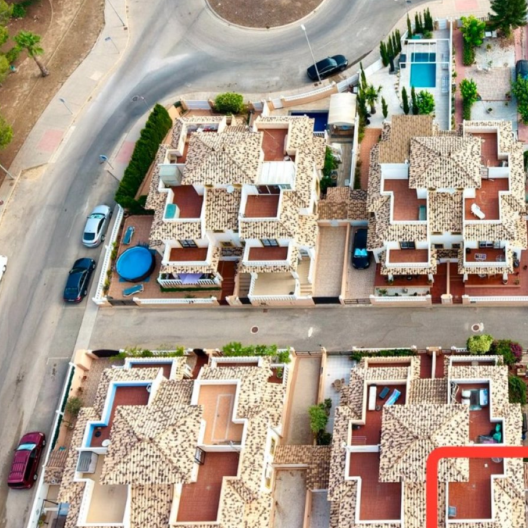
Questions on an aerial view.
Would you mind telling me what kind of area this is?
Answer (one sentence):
The area seen from above is a residential area.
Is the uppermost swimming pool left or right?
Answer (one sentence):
The uppermost swimming pool appears in the right half of the scene.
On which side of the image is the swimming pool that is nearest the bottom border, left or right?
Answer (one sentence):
The swimming pool that is nearest the bottom border appears in the left half of the scene.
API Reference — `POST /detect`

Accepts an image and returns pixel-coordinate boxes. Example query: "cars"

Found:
[61,258,96,301]
[307,54,349,80]
[1,432,48,489]
[513,60,528,81]
[348,230,373,270]
[81,205,113,244]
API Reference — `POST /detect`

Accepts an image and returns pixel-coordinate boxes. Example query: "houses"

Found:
[135,115,318,284]
[362,109,528,288]
[51,359,279,528]
[324,359,528,528]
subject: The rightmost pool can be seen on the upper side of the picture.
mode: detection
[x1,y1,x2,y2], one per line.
[406,49,440,90]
